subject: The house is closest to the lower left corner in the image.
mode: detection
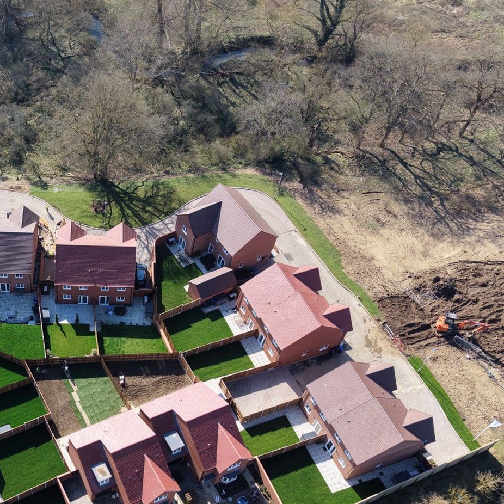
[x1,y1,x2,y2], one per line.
[68,409,181,504]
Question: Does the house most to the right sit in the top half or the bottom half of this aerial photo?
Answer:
bottom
